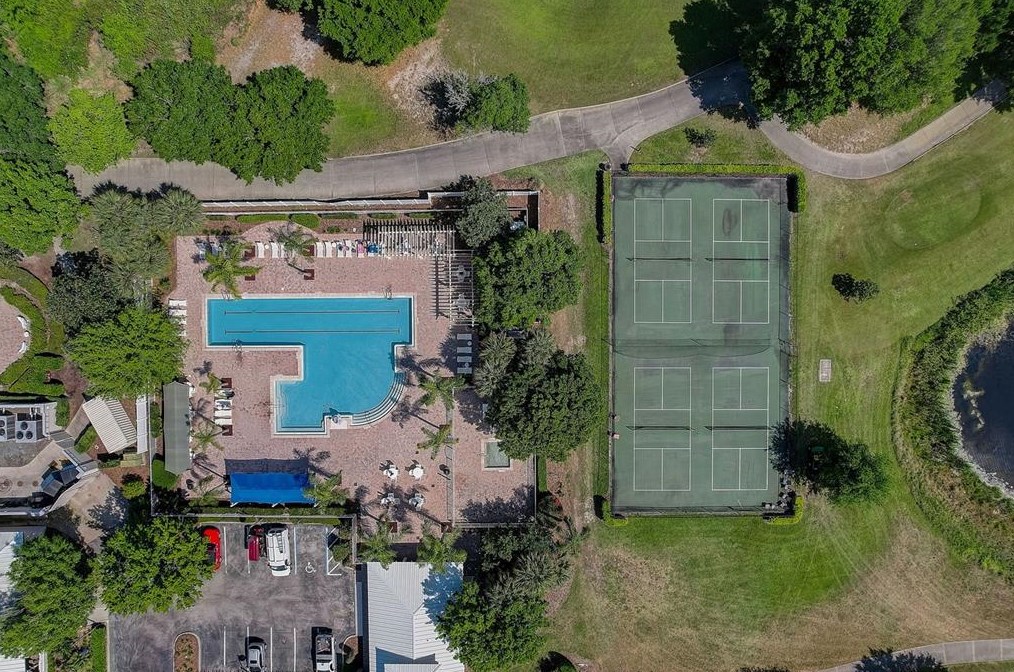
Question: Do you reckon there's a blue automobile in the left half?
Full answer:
No, no blue automobile can be made out in the left half.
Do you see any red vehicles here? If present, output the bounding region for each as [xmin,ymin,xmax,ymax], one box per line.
[199,528,220,572]
[247,526,268,566]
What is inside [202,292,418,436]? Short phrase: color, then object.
blue swimming pool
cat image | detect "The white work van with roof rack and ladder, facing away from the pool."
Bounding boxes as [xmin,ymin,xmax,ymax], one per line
[263,528,289,578]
